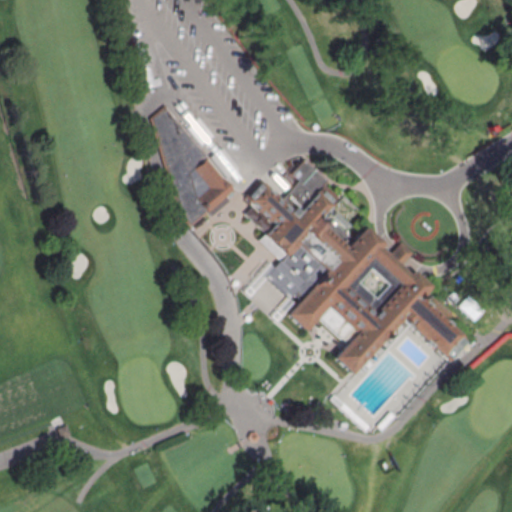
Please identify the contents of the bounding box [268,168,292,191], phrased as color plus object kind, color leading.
white truck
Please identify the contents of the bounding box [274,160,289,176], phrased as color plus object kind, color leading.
white vehicle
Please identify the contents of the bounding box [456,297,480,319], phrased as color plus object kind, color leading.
white tent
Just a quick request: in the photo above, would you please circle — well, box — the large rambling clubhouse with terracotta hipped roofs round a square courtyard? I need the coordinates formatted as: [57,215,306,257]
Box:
[246,163,474,374]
